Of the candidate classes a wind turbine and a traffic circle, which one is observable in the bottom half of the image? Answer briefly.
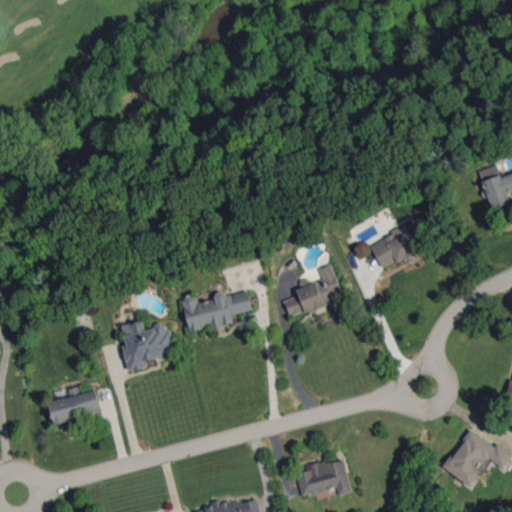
traffic circle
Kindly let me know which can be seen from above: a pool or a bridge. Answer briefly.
pool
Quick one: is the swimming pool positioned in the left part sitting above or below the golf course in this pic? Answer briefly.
below it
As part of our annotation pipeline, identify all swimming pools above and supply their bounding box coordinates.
[303,246,324,270]
[355,224,378,242]
[504,156,512,172]
[137,292,166,315]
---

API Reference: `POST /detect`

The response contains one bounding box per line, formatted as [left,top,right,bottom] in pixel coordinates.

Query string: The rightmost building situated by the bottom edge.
[443,432,512,490]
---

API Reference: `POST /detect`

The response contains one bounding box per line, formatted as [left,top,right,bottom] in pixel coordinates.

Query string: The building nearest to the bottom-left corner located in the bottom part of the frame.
[48,386,101,427]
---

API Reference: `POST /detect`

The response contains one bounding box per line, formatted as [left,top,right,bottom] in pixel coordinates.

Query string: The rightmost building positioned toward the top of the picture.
[478,166,512,207]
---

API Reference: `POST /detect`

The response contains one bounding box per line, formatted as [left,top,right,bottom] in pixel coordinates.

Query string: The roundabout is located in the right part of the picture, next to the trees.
[394,352,456,419]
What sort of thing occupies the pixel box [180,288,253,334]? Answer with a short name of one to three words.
house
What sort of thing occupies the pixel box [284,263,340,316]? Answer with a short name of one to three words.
house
